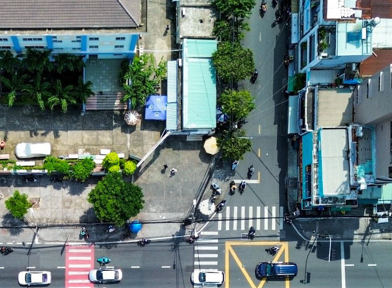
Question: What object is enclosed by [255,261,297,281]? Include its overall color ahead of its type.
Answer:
blue car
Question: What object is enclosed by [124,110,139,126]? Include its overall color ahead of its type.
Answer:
white umbrella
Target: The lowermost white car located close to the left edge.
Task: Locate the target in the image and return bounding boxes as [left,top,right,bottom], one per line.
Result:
[19,269,51,287]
